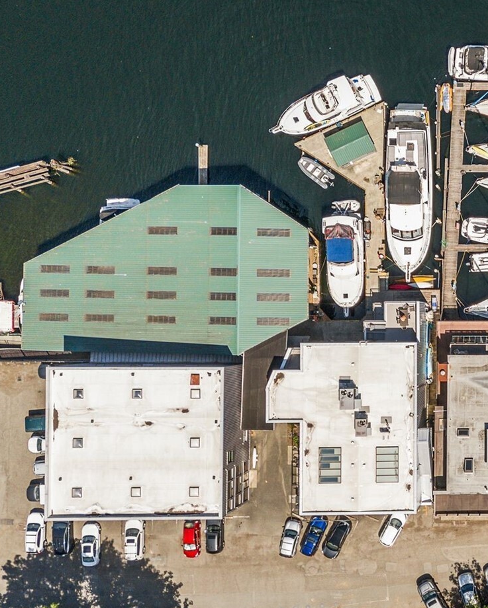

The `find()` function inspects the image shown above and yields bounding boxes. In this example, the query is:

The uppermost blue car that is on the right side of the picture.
[299,515,328,558]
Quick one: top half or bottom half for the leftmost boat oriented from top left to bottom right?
top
